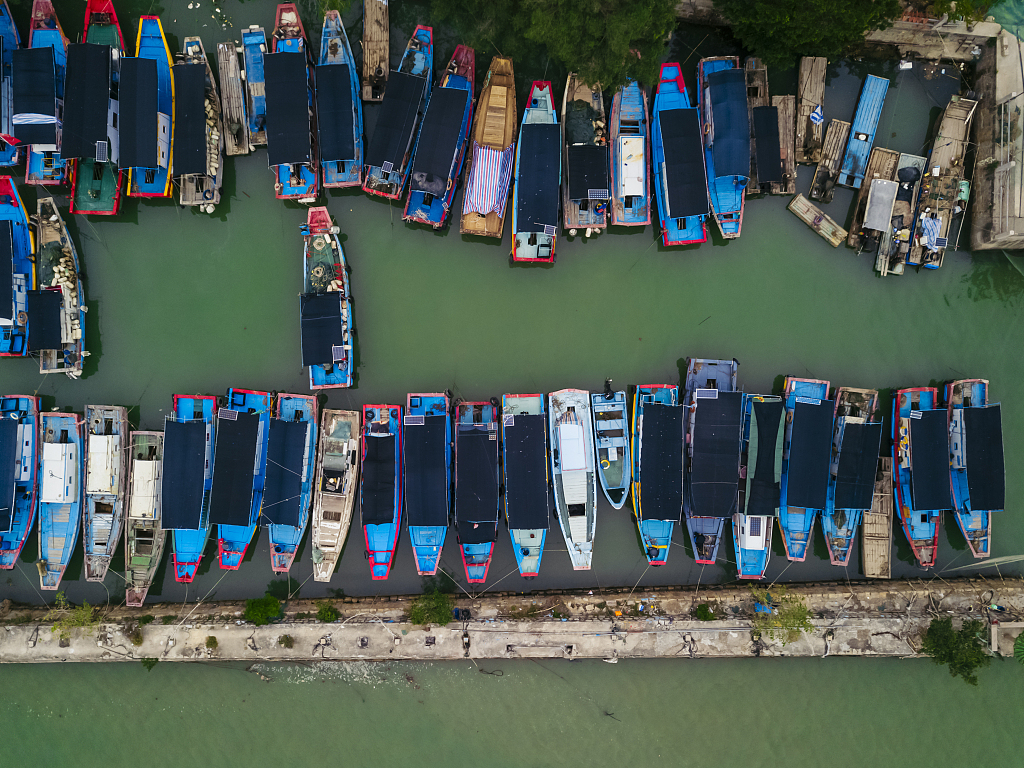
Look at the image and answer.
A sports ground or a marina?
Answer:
marina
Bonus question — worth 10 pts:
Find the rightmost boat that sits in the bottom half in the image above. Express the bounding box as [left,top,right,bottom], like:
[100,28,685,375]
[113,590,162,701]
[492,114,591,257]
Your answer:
[940,379,1005,557]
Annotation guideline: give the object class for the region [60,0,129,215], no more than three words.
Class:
boat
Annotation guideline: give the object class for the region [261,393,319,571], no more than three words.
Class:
boat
